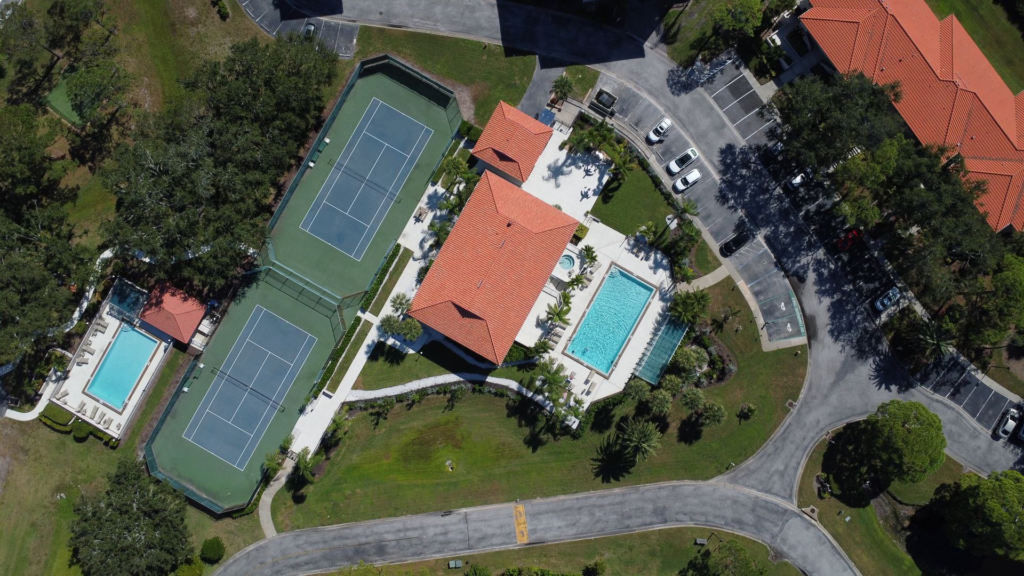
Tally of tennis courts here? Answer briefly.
2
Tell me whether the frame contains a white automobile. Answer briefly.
Yes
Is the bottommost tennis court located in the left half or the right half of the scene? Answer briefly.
left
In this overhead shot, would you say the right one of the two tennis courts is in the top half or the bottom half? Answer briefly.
top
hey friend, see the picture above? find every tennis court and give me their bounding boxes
[146,260,365,507]
[269,61,460,297]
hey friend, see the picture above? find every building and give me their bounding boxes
[472,100,553,183]
[139,286,209,344]
[407,170,579,366]
[793,0,1024,256]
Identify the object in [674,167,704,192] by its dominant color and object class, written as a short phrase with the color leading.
white car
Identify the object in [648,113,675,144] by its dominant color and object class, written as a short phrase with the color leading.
white car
